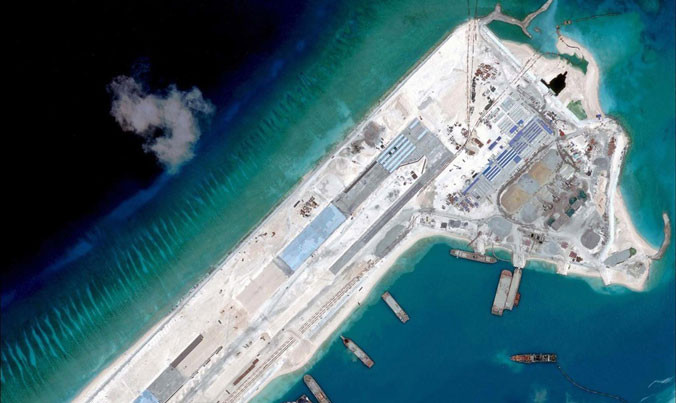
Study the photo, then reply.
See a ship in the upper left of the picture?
No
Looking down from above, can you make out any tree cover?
No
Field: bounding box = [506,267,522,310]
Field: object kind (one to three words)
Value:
ship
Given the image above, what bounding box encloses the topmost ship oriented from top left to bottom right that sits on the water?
[382,292,409,322]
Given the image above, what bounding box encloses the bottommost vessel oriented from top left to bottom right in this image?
[303,375,330,403]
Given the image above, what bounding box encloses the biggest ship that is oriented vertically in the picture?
[492,271,512,315]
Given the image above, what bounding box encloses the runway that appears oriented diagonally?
[127,118,456,403]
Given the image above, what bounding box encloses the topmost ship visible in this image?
[450,249,497,263]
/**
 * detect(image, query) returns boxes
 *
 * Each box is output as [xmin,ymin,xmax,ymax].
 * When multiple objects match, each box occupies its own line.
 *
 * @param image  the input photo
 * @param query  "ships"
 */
[506,267,522,310]
[510,355,557,362]
[492,271,512,315]
[341,336,372,367]
[382,292,409,322]
[450,249,497,263]
[303,375,330,403]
